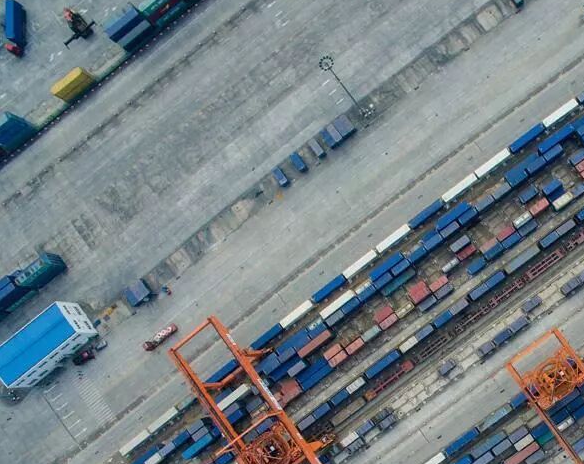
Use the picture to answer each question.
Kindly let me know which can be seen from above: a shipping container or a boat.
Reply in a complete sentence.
I can see a shipping container in this picture.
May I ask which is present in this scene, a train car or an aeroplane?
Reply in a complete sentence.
It is a train car that can be seen here.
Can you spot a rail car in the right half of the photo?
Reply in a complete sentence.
Yes, a rail car can be seen in the right half of the photo.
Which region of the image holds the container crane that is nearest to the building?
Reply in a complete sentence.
The container crane that is nearest to the building is located in the bottom region of the scene.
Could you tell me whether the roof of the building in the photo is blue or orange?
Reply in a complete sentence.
The color of the roof of the building is blue.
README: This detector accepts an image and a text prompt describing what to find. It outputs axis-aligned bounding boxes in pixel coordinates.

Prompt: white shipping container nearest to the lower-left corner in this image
[111,431,151,462]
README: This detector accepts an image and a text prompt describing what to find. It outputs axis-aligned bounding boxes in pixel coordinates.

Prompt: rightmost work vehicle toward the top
[63,4,98,42]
